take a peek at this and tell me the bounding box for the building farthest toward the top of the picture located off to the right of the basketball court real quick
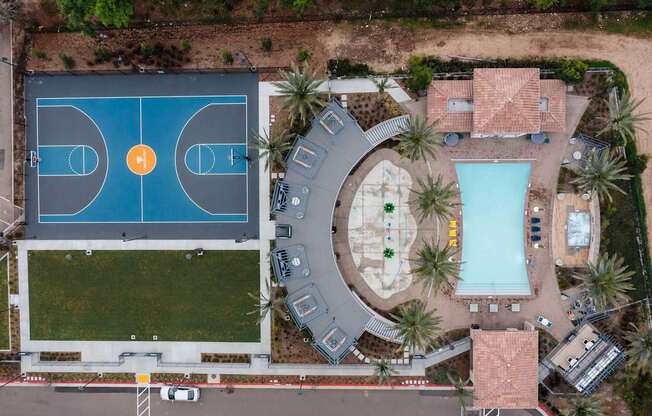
[425,67,567,139]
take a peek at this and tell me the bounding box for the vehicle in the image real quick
[160,384,201,403]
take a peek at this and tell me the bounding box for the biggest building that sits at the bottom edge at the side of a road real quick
[468,329,539,410]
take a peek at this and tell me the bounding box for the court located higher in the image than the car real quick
[24,72,259,240]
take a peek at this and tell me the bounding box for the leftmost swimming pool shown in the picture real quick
[452,158,535,299]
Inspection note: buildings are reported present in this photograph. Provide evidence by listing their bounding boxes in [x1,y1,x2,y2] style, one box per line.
[468,329,539,410]
[425,67,567,139]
